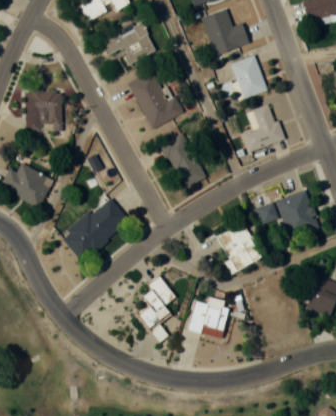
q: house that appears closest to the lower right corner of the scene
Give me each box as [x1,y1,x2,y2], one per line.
[307,278,336,316]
